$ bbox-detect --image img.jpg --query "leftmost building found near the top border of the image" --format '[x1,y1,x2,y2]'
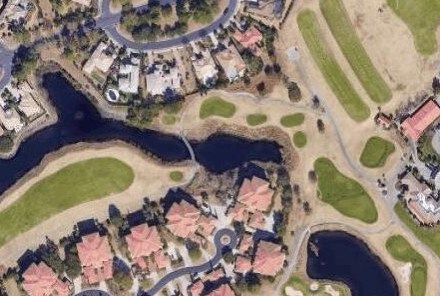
[0,0,30,28]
